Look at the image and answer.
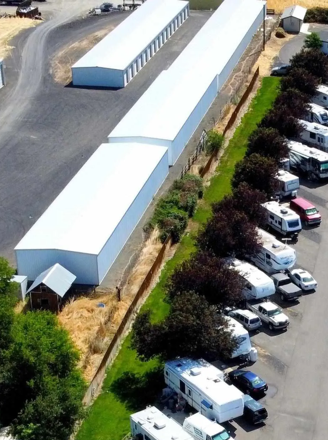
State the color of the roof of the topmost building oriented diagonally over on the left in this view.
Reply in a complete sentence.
The roof of the topmost building oriented diagonally over on the left is white.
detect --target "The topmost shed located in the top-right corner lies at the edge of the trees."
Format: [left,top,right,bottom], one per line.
[280,9,310,32]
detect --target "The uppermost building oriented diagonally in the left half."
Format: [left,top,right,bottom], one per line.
[71,0,190,87]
